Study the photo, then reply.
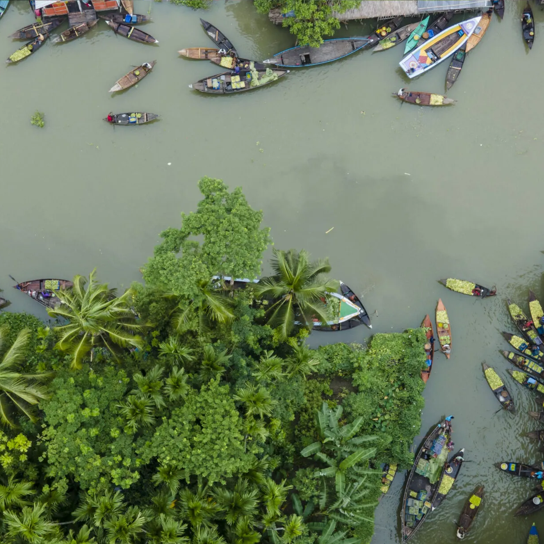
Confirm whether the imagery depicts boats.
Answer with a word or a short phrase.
Yes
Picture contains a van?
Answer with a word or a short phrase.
No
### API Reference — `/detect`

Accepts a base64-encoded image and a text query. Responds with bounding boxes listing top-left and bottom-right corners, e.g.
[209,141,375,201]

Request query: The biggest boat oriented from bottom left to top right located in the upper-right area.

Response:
[402,12,484,77]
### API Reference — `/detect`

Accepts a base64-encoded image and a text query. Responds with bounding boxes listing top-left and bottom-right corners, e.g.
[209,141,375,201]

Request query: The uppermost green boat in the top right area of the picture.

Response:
[403,14,431,56]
